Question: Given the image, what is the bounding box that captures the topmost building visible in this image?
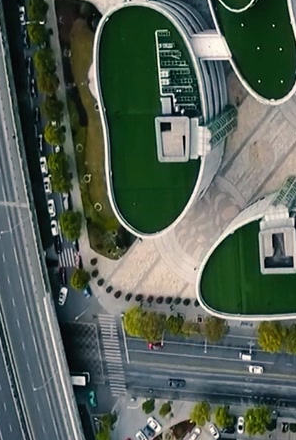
[210,0,296,109]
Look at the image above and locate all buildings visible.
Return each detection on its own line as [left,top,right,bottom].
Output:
[94,1,244,239]
[199,173,296,318]
[210,0,296,109]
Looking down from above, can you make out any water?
No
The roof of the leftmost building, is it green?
Yes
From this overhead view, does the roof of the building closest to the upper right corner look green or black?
green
